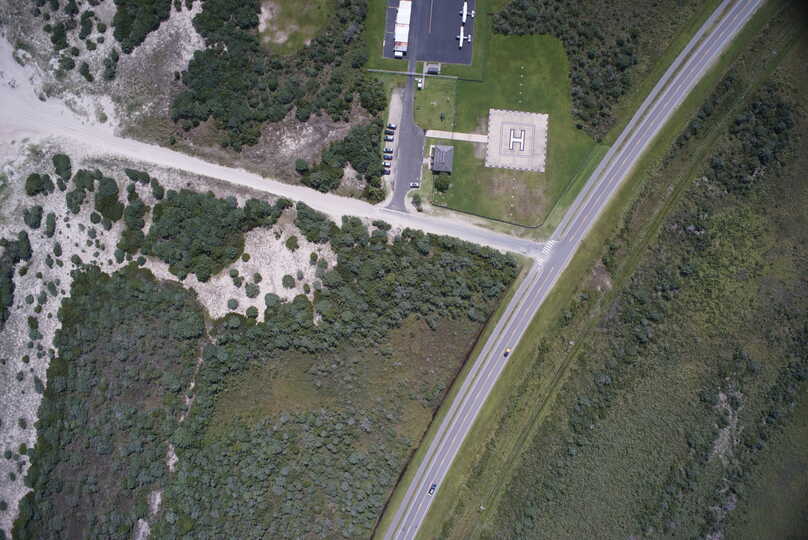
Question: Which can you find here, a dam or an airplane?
airplane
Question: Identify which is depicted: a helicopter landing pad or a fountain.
helicopter landing pad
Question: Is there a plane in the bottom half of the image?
No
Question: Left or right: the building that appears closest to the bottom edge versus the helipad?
left of it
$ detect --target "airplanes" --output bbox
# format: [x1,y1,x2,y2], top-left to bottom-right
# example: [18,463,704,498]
[458,2,475,22]
[455,26,472,47]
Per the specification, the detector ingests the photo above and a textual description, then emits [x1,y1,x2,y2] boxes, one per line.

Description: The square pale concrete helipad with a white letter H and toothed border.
[485,108,549,172]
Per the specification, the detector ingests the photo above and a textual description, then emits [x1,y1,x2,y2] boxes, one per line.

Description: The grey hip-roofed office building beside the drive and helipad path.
[432,145,454,171]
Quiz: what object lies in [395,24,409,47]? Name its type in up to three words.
hangar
